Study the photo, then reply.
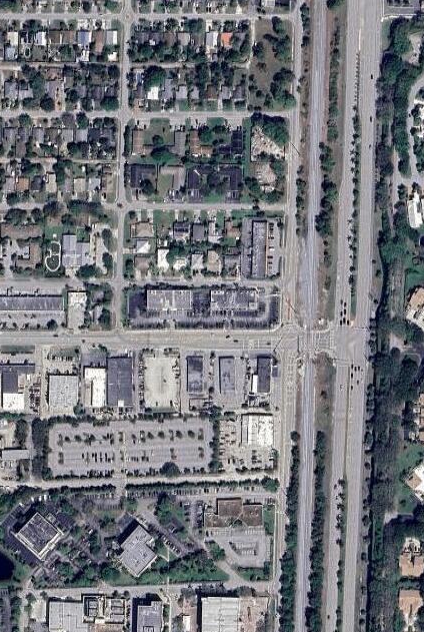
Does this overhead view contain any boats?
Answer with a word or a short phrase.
No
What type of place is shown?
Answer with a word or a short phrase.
residential area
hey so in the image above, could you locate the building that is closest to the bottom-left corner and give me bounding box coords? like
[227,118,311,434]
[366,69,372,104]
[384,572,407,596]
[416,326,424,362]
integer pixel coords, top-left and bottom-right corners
[48,600,87,632]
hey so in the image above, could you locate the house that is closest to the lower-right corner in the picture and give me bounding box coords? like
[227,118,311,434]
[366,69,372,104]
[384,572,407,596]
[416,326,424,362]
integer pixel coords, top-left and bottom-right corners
[400,587,423,610]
